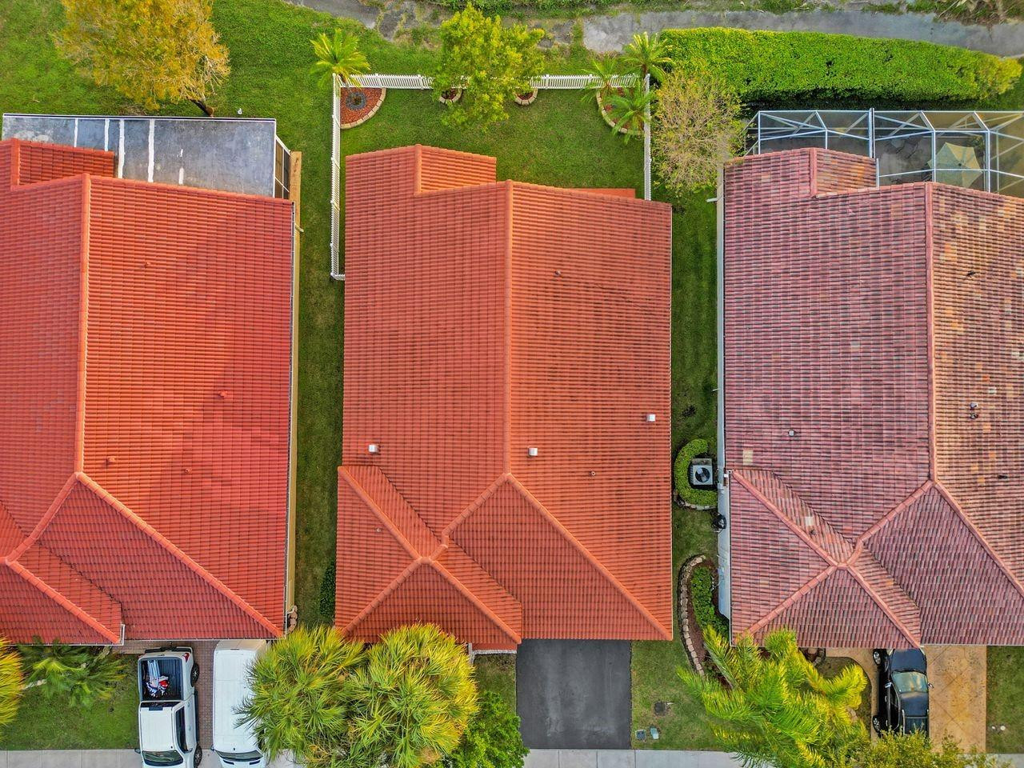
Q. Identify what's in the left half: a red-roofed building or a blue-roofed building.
red-roofed building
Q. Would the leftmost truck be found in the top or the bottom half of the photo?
bottom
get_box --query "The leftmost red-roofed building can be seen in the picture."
[0,138,312,644]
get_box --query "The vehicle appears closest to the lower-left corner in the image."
[133,643,203,768]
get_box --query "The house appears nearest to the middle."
[332,142,674,646]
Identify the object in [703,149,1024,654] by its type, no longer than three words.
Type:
house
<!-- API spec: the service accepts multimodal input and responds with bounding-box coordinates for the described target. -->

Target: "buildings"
[703,149,1024,654]
[0,138,312,644]
[332,142,674,646]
